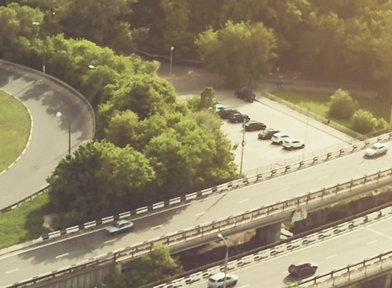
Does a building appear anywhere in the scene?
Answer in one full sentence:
No, there appears to be no building in this shot.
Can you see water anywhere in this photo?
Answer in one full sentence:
No, the picture contains no water.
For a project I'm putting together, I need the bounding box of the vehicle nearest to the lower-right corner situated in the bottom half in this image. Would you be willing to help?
[285,263,319,278]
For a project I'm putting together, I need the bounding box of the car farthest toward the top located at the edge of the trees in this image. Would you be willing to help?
[233,85,258,102]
